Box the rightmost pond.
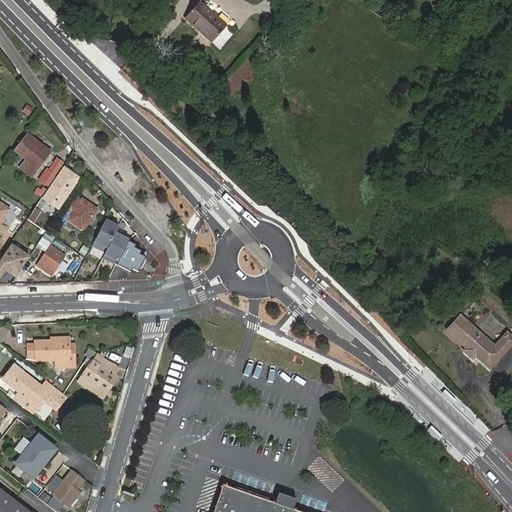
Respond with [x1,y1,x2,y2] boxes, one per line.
[334,424,448,512]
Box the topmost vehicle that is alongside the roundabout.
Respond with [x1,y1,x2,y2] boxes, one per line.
[222,192,260,228]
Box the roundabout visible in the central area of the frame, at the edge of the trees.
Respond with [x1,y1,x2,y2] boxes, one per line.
[210,216,298,306]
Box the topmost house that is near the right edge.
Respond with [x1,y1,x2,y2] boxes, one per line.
[444,314,512,372]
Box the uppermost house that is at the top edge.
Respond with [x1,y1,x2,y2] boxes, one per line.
[184,0,228,42]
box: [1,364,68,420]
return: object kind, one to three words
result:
house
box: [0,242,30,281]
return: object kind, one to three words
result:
house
